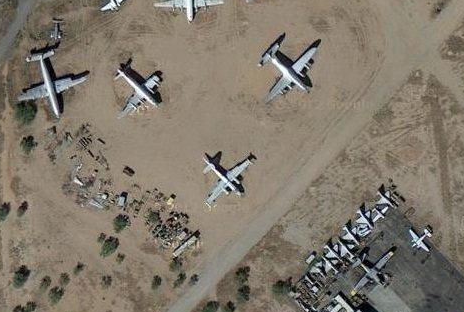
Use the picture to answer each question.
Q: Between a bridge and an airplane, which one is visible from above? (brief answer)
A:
airplane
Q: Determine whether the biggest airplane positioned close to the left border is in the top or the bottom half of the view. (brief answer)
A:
top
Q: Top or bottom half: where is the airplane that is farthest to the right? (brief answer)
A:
bottom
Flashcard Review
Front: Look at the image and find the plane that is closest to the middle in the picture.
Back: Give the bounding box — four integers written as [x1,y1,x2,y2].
[202,157,252,207]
